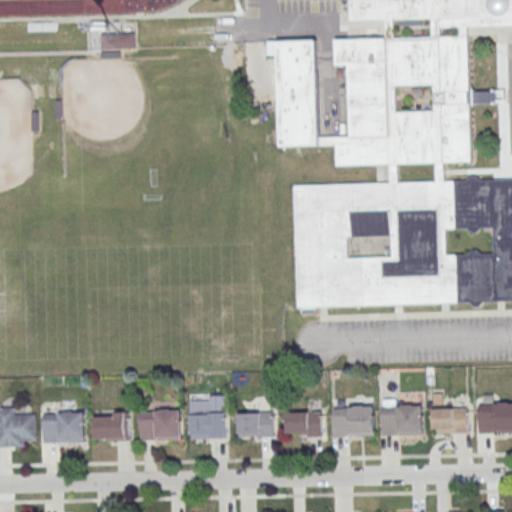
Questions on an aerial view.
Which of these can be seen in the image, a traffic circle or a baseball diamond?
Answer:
baseball diamond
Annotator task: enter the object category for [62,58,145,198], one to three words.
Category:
baseball field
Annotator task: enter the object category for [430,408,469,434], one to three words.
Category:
house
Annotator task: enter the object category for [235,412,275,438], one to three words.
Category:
house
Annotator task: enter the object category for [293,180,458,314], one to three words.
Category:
building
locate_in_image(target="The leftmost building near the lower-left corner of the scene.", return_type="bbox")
[0,407,36,448]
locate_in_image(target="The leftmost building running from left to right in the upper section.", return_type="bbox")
[101,32,134,49]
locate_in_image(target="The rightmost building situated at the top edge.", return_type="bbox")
[266,0,512,181]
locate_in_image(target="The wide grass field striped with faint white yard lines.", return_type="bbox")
[0,241,257,364]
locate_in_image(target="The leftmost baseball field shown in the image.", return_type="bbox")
[0,78,34,192]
